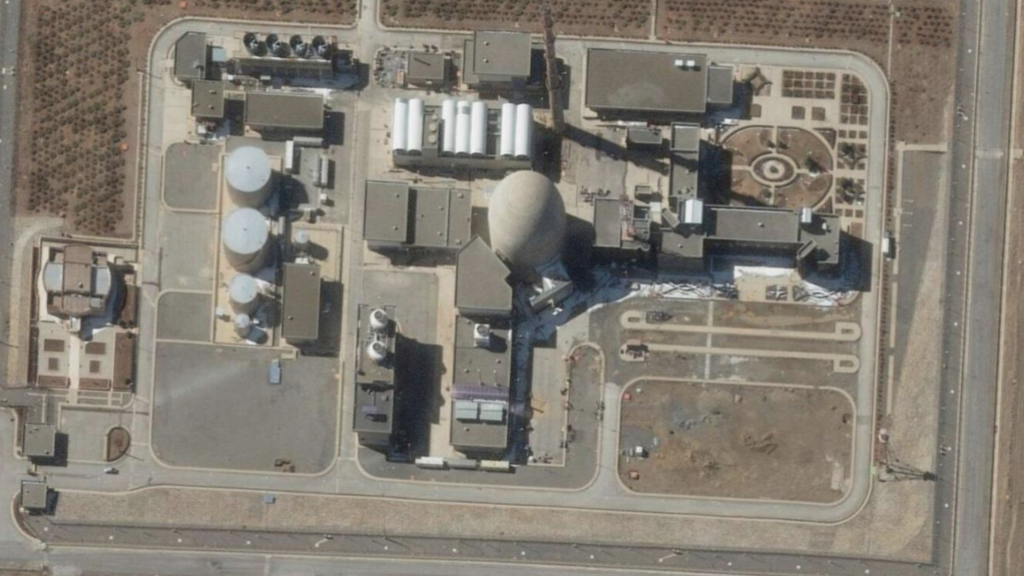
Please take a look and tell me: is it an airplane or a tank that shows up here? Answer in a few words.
tank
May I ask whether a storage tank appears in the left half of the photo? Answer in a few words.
Yes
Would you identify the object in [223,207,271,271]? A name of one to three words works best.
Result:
storage tank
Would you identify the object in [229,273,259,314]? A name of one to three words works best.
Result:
storage tank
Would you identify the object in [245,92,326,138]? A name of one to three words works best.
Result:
building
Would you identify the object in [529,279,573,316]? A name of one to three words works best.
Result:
building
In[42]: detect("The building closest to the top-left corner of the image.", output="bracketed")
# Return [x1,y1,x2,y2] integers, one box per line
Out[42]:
[174,31,207,85]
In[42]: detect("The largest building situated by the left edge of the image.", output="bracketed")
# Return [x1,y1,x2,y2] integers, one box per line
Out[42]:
[43,245,114,337]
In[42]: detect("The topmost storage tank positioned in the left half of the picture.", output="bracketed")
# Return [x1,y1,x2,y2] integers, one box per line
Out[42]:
[226,145,274,209]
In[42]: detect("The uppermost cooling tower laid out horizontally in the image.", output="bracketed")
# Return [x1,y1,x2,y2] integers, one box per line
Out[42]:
[233,32,353,77]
